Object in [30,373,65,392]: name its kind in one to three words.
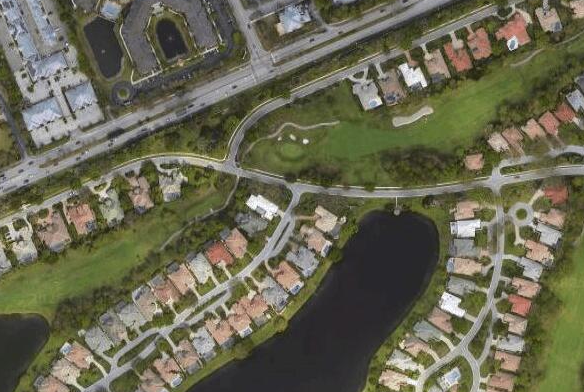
house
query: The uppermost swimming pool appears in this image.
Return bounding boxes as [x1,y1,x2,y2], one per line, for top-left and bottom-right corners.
[100,1,122,21]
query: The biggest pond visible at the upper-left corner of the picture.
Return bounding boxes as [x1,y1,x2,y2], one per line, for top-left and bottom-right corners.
[84,16,124,78]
